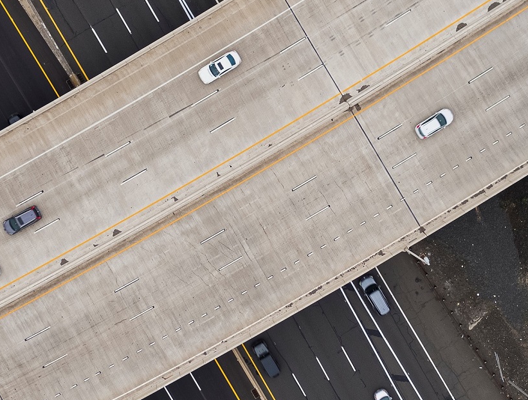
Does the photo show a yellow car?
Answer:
No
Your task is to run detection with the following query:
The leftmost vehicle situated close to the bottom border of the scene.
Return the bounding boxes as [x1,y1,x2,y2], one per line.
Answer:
[252,336,283,381]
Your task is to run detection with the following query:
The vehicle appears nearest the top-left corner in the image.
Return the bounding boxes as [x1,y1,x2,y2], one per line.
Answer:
[5,108,24,125]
